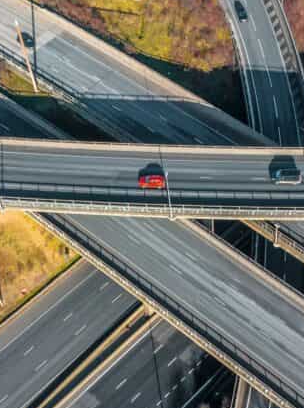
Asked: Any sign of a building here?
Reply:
No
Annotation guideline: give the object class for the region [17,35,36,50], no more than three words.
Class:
car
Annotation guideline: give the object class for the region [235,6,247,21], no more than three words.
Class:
vehicle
